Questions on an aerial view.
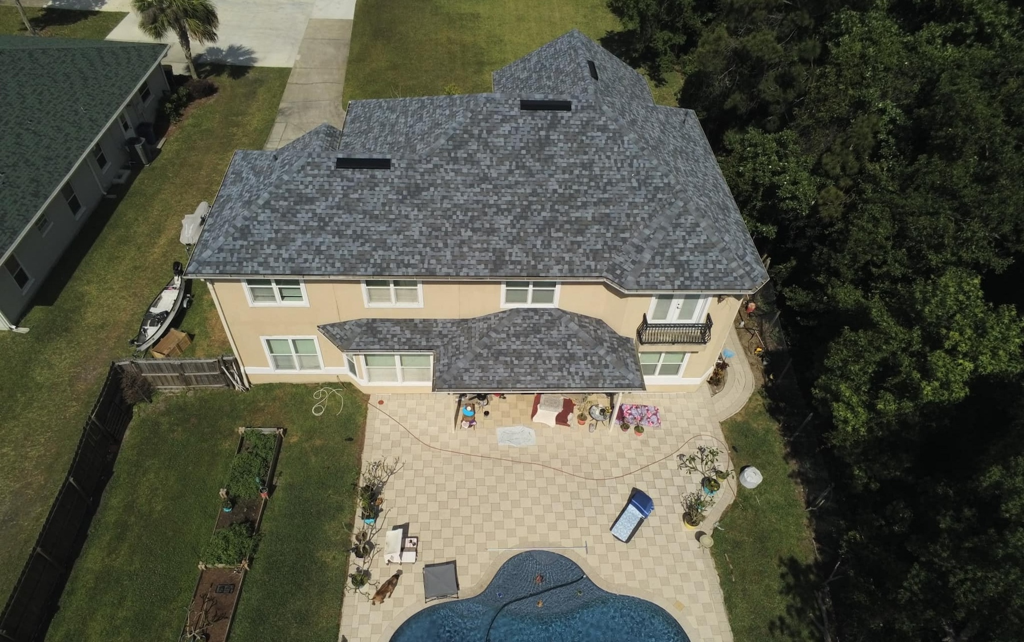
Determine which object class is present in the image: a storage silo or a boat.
boat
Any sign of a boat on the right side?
No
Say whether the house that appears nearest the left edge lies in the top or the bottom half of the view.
top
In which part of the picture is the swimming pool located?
bottom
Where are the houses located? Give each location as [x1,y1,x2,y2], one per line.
[182,30,771,434]
[0,35,174,330]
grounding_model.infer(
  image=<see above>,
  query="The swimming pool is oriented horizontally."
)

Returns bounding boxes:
[394,551,688,642]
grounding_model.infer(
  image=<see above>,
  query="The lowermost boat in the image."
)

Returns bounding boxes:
[131,266,189,353]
